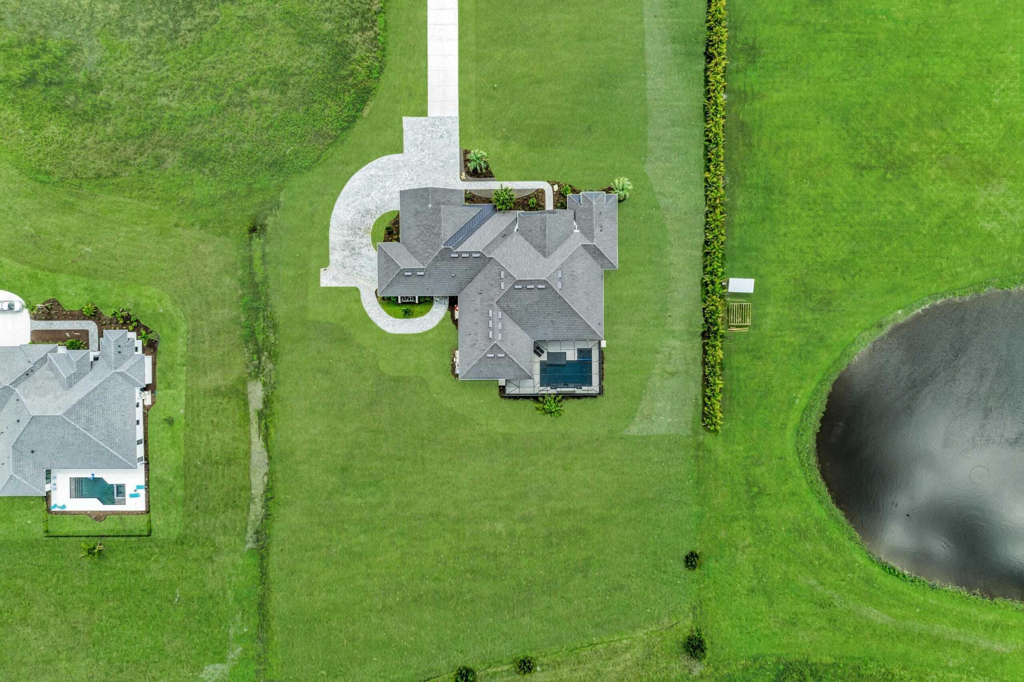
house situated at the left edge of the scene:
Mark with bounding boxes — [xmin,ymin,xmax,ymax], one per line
[0,330,152,496]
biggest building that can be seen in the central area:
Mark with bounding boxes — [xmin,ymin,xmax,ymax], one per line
[377,187,618,380]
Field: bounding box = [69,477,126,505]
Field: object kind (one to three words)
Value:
swimming pool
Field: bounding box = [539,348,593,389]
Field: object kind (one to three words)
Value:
swimming pool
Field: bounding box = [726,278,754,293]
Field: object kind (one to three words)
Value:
shed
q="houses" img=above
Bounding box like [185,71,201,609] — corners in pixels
[377,187,618,380]
[0,330,152,496]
